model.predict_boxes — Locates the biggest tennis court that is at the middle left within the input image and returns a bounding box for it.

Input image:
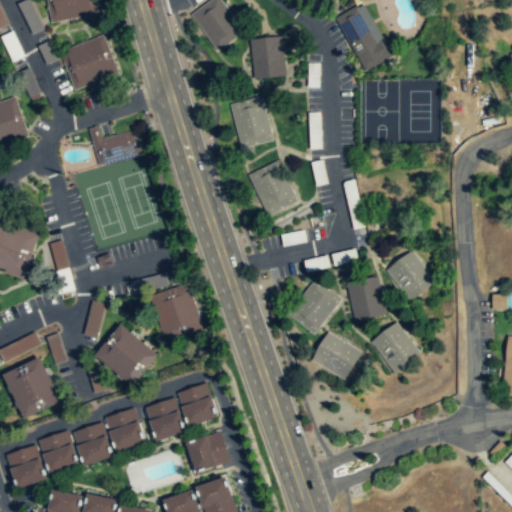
[75,156,164,249]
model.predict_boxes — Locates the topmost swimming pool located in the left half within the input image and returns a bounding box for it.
[62,140,98,172]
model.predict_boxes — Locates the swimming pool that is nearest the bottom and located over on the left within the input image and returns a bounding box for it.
[128,450,184,493]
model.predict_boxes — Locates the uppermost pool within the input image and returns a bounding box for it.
[376,0,424,38]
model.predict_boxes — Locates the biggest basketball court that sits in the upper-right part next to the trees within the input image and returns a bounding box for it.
[363,80,442,142]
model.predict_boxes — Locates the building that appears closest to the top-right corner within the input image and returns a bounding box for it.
[337,6,390,70]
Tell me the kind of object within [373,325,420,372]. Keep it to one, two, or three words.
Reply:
building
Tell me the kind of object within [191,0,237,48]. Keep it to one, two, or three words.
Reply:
building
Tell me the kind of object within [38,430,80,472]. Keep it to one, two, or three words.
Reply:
house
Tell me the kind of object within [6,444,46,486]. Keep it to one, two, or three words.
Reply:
house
